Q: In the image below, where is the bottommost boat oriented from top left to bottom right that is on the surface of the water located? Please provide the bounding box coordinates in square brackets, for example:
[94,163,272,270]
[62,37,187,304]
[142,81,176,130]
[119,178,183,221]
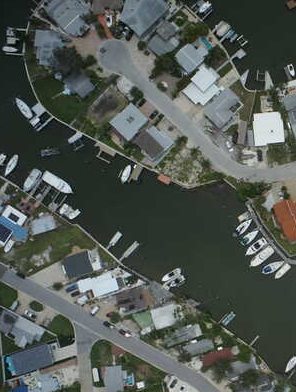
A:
[40,169,73,193]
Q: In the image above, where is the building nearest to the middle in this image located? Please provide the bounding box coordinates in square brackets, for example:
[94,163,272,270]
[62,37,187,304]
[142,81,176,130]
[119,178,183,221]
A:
[135,125,176,164]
